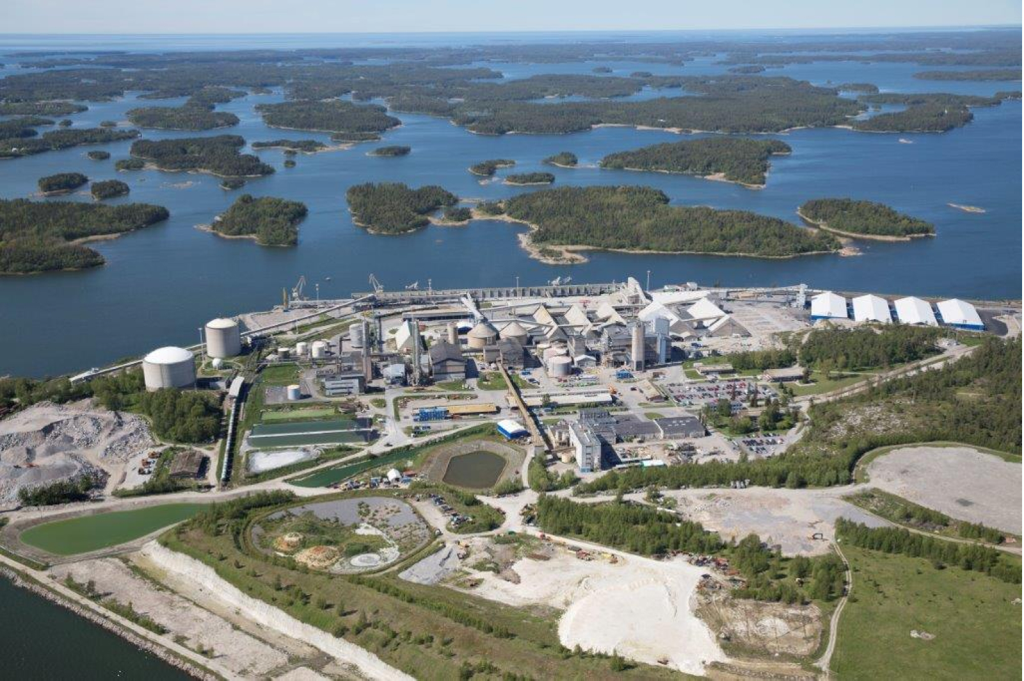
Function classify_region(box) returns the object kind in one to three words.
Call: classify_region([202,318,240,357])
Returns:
storage tank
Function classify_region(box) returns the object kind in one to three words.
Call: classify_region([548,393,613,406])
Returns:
shed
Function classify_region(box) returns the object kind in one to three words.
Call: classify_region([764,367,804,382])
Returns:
house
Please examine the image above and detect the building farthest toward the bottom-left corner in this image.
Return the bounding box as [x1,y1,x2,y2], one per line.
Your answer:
[169,449,204,477]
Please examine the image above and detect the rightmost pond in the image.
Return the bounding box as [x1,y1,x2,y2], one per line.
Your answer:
[443,451,507,488]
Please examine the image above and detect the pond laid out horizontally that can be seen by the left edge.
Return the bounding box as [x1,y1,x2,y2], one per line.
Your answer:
[21,503,211,555]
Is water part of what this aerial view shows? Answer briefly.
Yes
